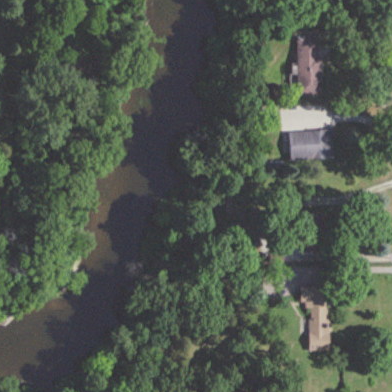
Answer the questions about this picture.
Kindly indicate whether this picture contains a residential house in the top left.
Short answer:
No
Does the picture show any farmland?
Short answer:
No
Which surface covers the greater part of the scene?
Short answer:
trees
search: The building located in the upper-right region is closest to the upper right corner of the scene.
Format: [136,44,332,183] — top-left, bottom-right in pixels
[290,35,323,94]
